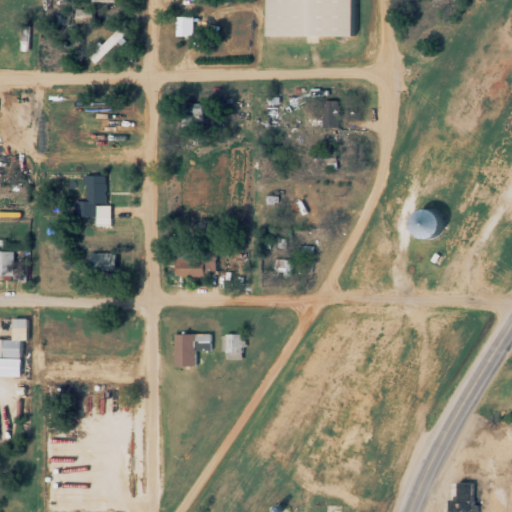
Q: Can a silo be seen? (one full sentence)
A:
Yes, a silo is visible in the scene.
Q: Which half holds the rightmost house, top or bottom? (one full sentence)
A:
You can find the rightmost house in the bottom half.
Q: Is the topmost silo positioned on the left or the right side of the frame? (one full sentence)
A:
The topmost silo sits on the right side.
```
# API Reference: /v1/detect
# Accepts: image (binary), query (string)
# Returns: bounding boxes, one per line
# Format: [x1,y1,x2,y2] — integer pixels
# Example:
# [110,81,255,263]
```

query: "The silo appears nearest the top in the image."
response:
[408,208,445,240]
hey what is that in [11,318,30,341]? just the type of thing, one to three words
barn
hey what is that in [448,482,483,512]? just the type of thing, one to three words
house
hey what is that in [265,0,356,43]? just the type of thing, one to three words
building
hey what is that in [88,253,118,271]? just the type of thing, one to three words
house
